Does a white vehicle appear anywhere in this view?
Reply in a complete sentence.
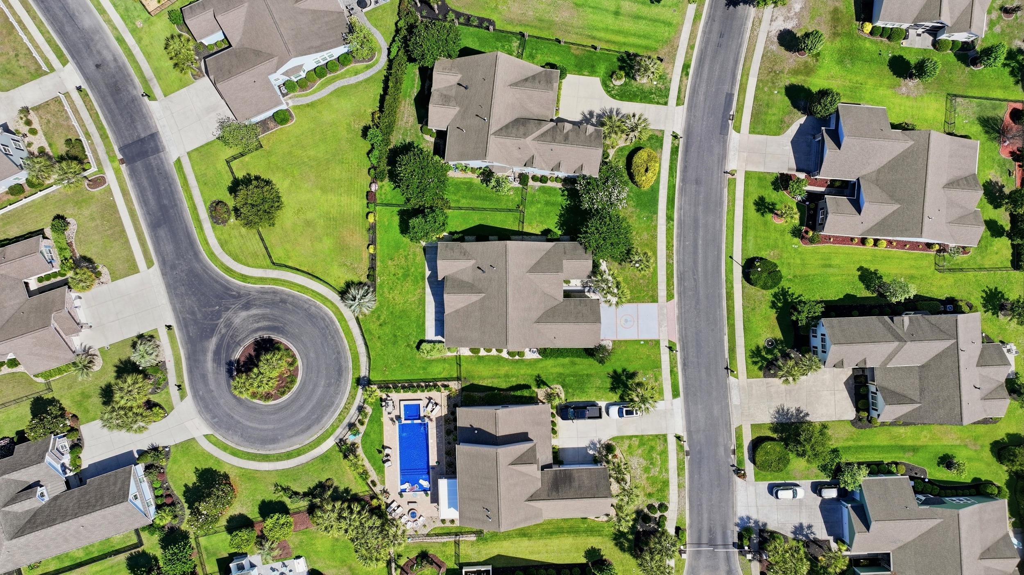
Yes, the image includes a white vehicle.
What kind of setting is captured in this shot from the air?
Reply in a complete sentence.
It's a residential area.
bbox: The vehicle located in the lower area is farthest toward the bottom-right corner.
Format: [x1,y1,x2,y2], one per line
[816,485,849,502]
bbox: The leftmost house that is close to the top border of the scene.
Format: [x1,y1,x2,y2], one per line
[182,0,350,124]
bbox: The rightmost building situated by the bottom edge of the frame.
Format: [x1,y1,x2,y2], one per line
[838,474,1023,575]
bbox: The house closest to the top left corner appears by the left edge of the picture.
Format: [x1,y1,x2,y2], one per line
[0,128,38,191]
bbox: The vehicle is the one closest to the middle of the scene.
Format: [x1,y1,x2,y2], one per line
[559,406,602,424]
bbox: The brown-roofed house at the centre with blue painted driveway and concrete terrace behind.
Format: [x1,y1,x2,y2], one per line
[436,239,603,350]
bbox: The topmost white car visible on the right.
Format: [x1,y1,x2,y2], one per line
[608,406,643,423]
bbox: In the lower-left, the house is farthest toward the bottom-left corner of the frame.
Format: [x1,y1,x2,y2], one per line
[0,433,168,574]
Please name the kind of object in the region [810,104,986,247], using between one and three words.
house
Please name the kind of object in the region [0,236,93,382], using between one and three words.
house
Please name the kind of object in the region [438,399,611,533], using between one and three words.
building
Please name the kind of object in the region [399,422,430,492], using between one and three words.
swimming pool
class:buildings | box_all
[810,104,986,247]
[0,128,38,191]
[182,0,350,124]
[0,433,168,574]
[0,236,93,382]
[838,474,1023,575]
[868,0,986,45]
[462,558,494,575]
[438,399,611,533]
[428,52,604,177]
[436,239,603,350]
[810,310,1014,425]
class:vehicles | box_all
[559,406,602,424]
[608,406,643,423]
[816,485,849,502]
[772,485,805,503]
